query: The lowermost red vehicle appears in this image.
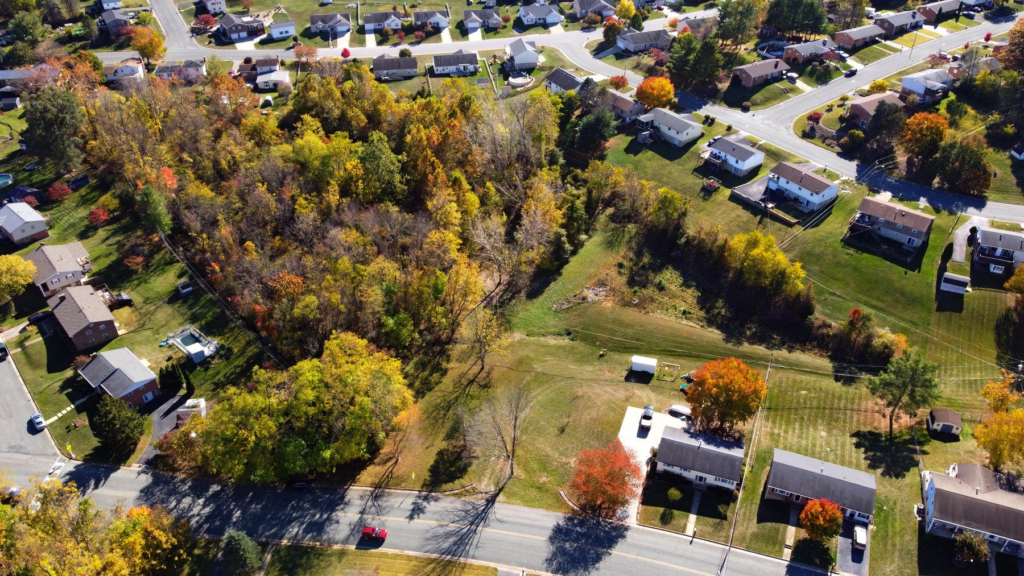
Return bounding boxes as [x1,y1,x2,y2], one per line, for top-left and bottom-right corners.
[360,528,389,544]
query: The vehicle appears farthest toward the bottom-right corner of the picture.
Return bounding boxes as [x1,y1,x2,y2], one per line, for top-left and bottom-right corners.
[854,523,869,550]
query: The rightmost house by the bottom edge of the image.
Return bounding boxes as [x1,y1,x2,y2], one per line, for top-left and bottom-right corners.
[918,456,1024,565]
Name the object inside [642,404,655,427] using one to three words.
vehicle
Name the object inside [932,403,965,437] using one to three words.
shed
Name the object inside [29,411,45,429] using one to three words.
car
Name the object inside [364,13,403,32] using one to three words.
house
